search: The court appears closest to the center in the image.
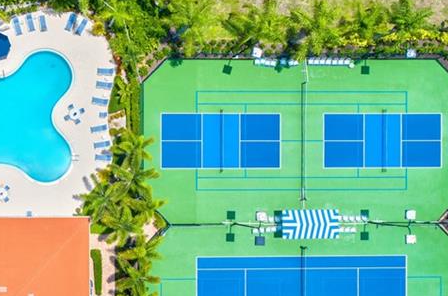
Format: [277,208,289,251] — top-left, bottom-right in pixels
[161,114,280,168]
